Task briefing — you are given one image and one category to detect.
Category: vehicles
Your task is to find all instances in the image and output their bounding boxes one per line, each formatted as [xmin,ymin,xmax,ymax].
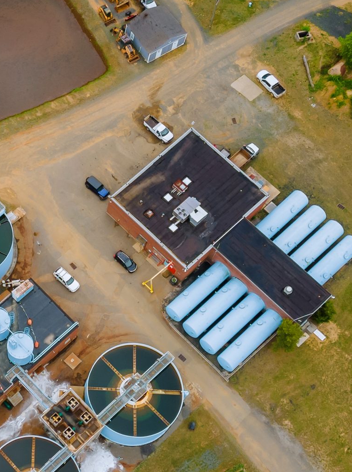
[51,266,82,296]
[109,28,139,66]
[140,0,161,9]
[229,143,261,169]
[256,71,286,99]
[144,115,174,144]
[108,0,131,15]
[112,249,139,276]
[83,174,111,201]
[98,3,116,28]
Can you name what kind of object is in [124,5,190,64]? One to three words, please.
shed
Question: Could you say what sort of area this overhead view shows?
industrial area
